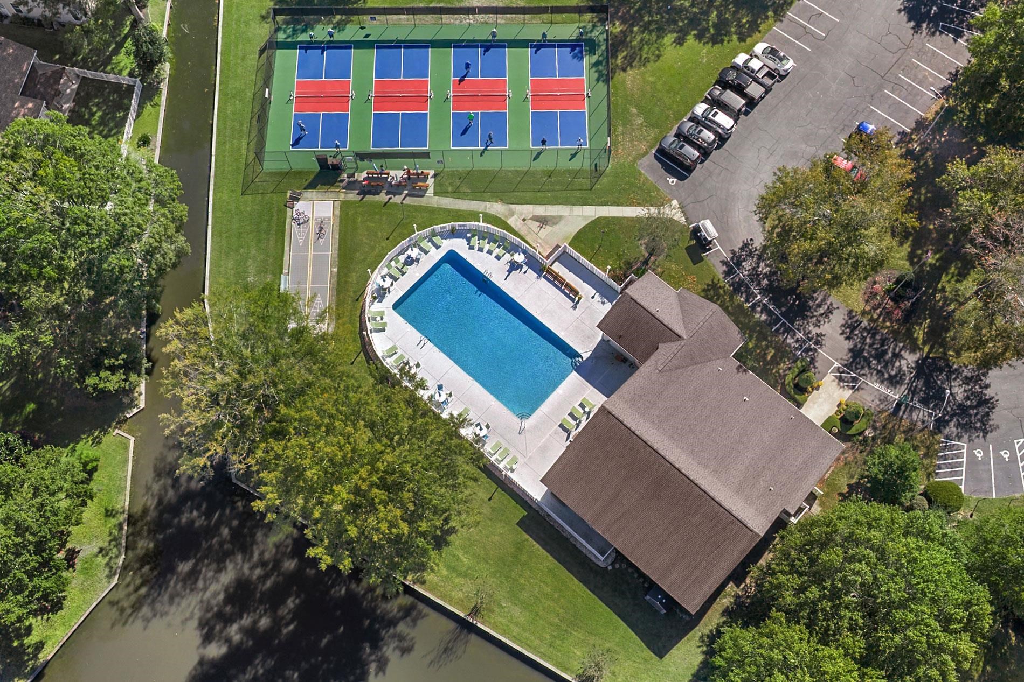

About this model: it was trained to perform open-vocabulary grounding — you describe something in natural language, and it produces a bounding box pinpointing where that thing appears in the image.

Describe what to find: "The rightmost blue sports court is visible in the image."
[529,42,588,147]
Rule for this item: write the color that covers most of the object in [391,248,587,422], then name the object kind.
blue swimming pool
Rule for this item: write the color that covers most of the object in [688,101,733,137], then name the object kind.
white car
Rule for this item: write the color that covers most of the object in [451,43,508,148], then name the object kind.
blue sports court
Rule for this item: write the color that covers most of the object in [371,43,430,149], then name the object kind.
blue sports court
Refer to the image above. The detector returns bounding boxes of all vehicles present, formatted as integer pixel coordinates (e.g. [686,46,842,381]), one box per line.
[705,85,748,119]
[673,118,717,153]
[688,101,733,137]
[848,120,882,153]
[732,51,782,91]
[657,134,701,169]
[719,67,770,108]
[696,219,719,247]
[749,39,794,74]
